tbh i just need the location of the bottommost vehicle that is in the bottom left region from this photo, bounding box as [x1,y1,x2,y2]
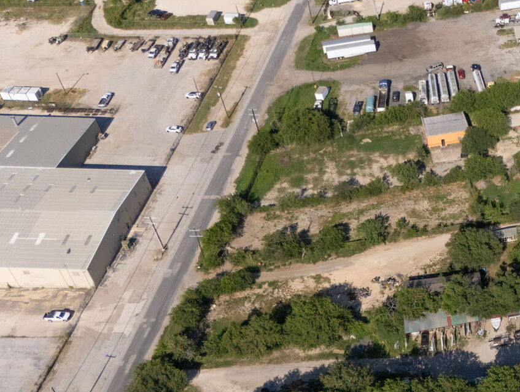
[40,311,75,324]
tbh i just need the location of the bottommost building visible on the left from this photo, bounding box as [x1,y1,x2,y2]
[0,166,151,287]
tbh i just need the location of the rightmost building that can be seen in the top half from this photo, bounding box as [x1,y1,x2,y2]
[421,110,468,146]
